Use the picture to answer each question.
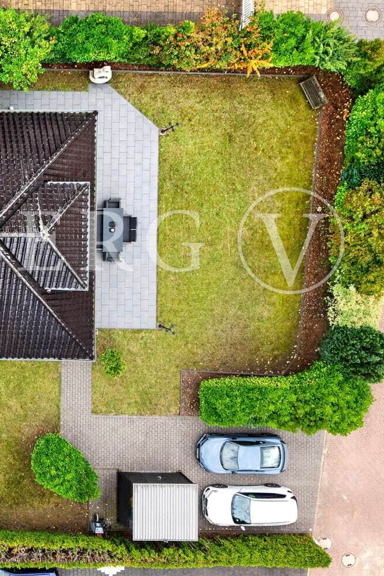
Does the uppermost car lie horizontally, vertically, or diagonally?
horizontally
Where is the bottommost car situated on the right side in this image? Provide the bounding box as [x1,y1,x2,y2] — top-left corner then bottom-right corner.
[201,485,298,531]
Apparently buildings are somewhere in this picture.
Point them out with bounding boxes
[0,107,100,362]
[117,472,198,544]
